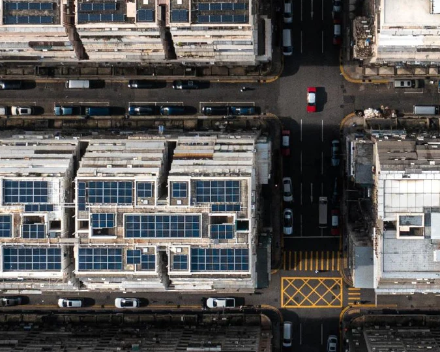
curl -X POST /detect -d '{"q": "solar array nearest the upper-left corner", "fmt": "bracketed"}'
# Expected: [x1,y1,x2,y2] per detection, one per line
[9,3,58,21]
